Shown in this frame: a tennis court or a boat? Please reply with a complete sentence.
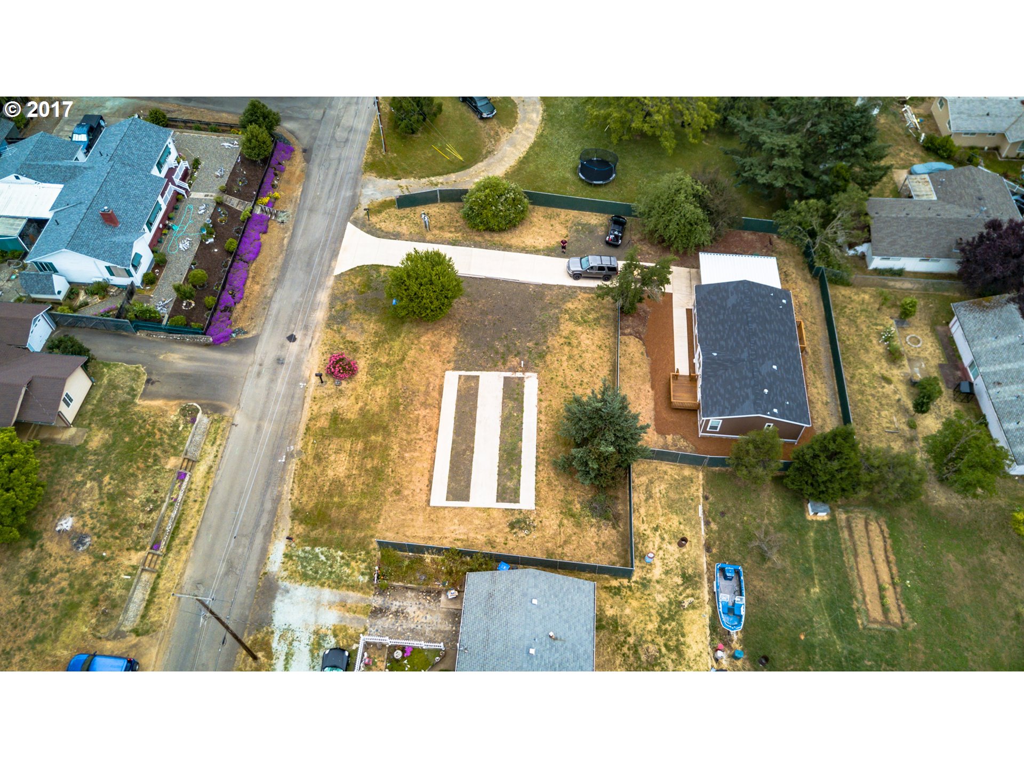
Looking from above, you can make out a boat.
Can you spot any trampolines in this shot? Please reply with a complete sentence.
Yes, the image includes a trampoline.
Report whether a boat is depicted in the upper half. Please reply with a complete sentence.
No, no boat can be made out in the upper half.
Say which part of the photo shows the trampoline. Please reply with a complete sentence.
The trampoline sits in the top section of the image.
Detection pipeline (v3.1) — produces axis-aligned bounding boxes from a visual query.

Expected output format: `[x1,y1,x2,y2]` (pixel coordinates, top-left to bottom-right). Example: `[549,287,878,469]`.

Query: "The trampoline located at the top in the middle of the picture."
[578,148,616,186]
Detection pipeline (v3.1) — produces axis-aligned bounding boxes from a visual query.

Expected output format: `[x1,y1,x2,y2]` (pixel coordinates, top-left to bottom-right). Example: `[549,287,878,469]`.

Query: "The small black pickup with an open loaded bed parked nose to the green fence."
[605,217,628,253]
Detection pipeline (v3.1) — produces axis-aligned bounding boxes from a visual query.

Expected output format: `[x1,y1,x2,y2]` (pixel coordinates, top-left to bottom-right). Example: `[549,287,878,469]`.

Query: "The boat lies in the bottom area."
[712,564,745,627]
